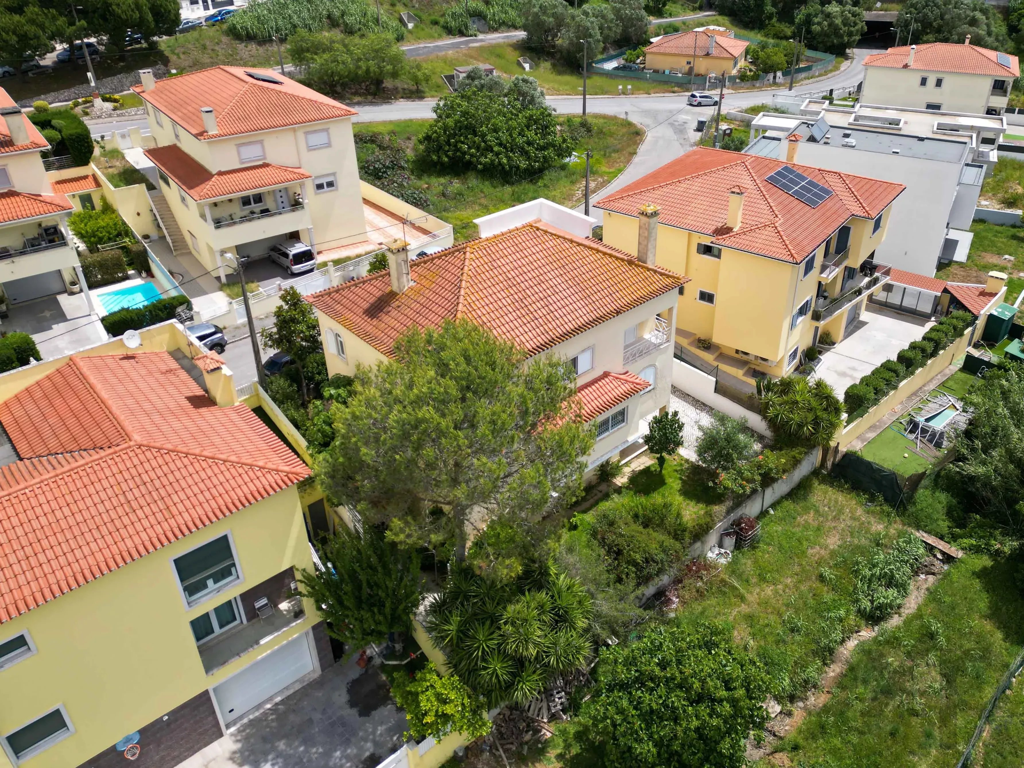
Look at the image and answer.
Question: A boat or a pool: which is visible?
pool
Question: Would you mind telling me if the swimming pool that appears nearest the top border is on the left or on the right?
left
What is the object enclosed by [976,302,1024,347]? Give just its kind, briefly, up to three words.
shed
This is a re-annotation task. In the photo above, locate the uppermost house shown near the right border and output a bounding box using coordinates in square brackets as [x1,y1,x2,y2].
[859,25,1023,116]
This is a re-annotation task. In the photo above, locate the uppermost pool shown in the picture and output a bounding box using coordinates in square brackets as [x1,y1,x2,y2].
[94,277,169,317]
